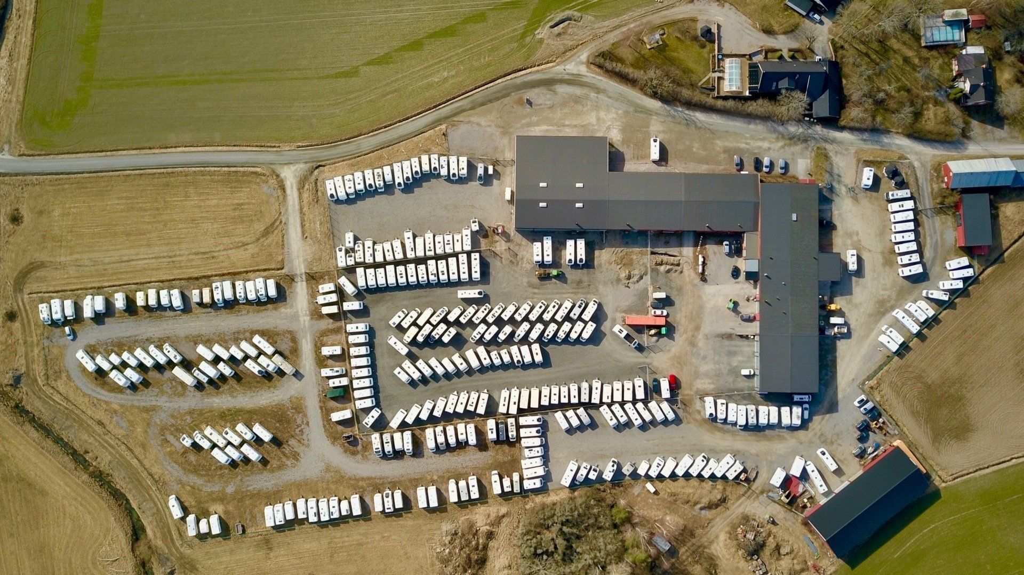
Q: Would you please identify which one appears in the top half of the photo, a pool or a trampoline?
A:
pool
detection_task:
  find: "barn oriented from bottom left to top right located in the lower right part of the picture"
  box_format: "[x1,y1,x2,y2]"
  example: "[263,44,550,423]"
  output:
[806,440,930,558]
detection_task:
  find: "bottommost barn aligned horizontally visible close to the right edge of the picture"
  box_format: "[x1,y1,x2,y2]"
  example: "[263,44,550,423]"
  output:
[943,158,1016,188]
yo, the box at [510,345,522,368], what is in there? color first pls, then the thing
white vehicle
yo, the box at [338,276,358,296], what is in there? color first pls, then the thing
white camper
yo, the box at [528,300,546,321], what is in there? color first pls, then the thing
white camper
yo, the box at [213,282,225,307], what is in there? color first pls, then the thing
white vehicle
